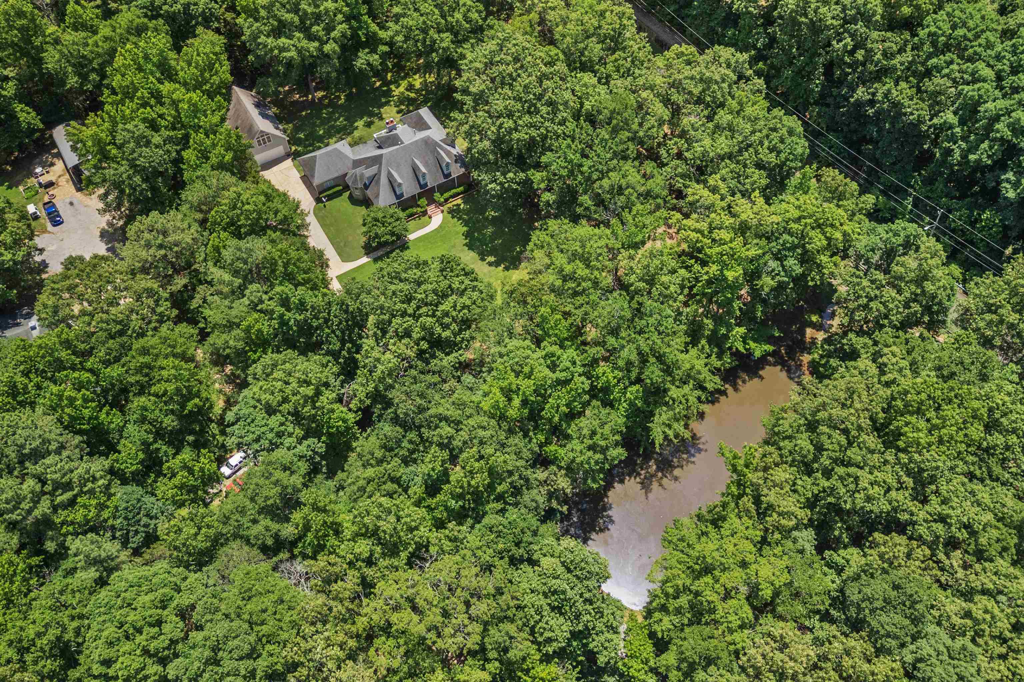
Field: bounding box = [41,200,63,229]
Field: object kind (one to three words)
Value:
truck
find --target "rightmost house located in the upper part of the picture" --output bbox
[296,106,471,220]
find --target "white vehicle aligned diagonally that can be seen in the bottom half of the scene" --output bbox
[219,450,249,479]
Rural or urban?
rural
